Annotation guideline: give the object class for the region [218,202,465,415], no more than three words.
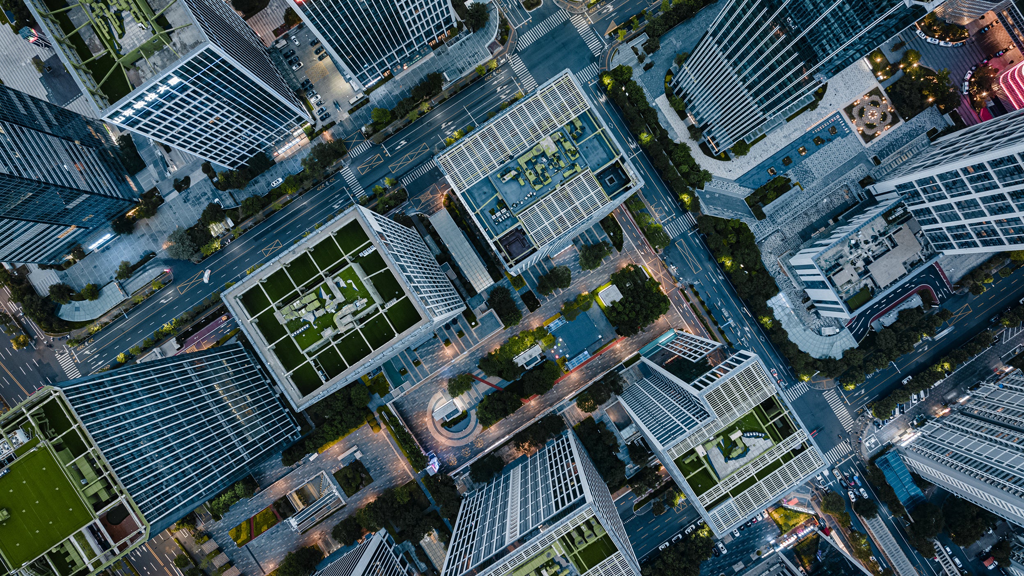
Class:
building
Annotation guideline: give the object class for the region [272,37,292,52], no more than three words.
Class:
vehicle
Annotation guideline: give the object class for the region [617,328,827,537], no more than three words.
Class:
building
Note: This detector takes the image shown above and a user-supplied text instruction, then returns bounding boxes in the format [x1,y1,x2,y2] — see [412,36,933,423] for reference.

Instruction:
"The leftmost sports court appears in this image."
[550,302,618,360]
